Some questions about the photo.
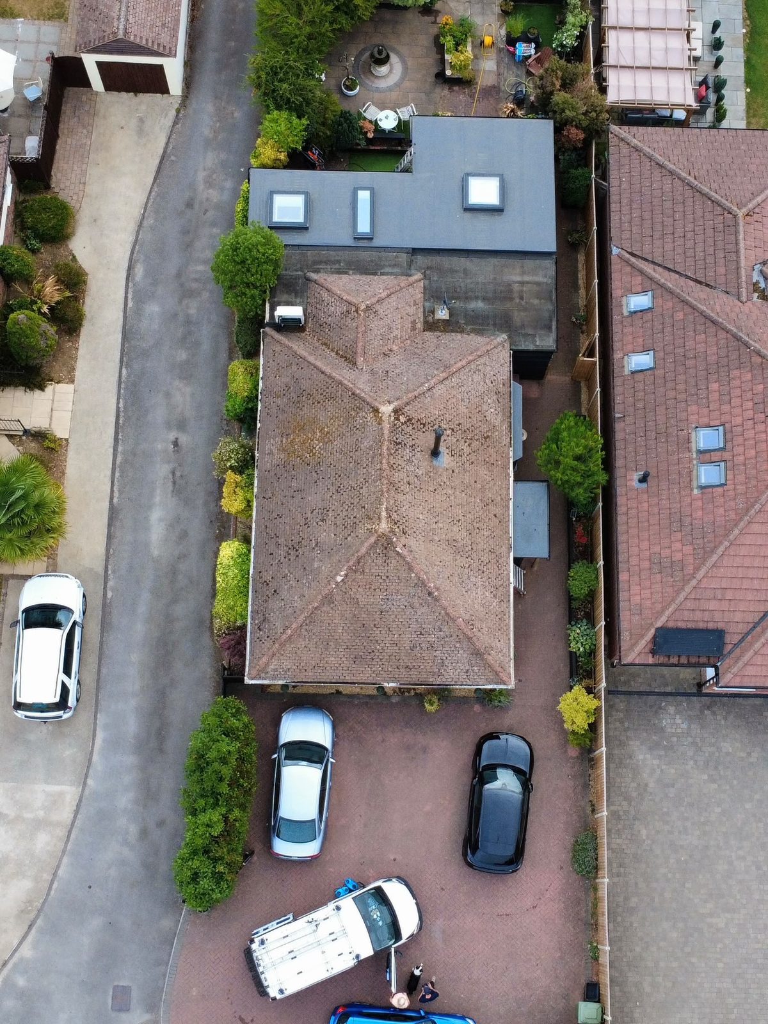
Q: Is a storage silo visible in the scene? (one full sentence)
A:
No, I can't see a single storage silo in this photo.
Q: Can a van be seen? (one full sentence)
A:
Yes, I can see a van in this picture.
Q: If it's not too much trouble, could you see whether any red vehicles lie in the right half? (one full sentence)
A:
No, no red vehicle can be made out in the right half.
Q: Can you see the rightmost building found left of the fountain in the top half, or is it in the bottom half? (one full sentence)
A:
You can find the rightmost building found left of the fountain in the top half.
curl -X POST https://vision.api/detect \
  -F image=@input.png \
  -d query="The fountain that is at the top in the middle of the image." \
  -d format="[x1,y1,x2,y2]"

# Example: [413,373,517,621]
[373,49,394,79]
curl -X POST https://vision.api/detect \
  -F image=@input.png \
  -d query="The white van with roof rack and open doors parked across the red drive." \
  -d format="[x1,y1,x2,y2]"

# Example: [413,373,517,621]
[240,875,425,1002]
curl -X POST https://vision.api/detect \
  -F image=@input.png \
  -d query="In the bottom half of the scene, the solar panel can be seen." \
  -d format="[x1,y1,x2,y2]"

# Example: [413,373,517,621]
[654,629,726,665]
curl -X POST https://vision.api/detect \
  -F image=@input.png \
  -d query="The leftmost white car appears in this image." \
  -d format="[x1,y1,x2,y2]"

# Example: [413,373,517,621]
[6,575,87,725]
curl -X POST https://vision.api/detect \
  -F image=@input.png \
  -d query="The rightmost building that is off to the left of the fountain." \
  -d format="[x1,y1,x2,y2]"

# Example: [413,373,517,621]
[77,0,188,96]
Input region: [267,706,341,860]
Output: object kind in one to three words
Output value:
car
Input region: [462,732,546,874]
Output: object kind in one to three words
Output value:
car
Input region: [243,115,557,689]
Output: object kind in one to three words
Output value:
house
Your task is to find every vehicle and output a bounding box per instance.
[240,875,425,1002]
[332,1002,471,1024]
[462,732,546,874]
[267,706,341,860]
[6,575,87,725]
